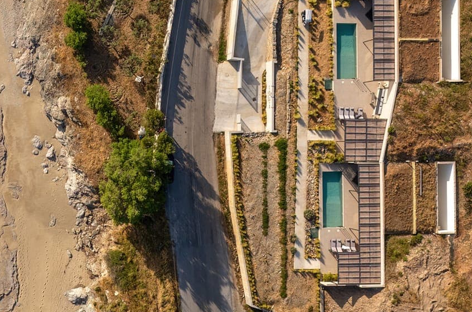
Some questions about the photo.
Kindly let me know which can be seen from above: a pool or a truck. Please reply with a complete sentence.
Of the two, only a pool appears.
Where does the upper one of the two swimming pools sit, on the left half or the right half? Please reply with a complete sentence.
You can find the upper one of the two swimming pools on the right side of the picture.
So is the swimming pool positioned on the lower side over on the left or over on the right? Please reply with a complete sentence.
You can find the swimming pool positioned on the lower side on the right side of the picture.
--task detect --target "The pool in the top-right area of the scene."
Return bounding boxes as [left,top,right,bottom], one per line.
[336,22,358,83]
